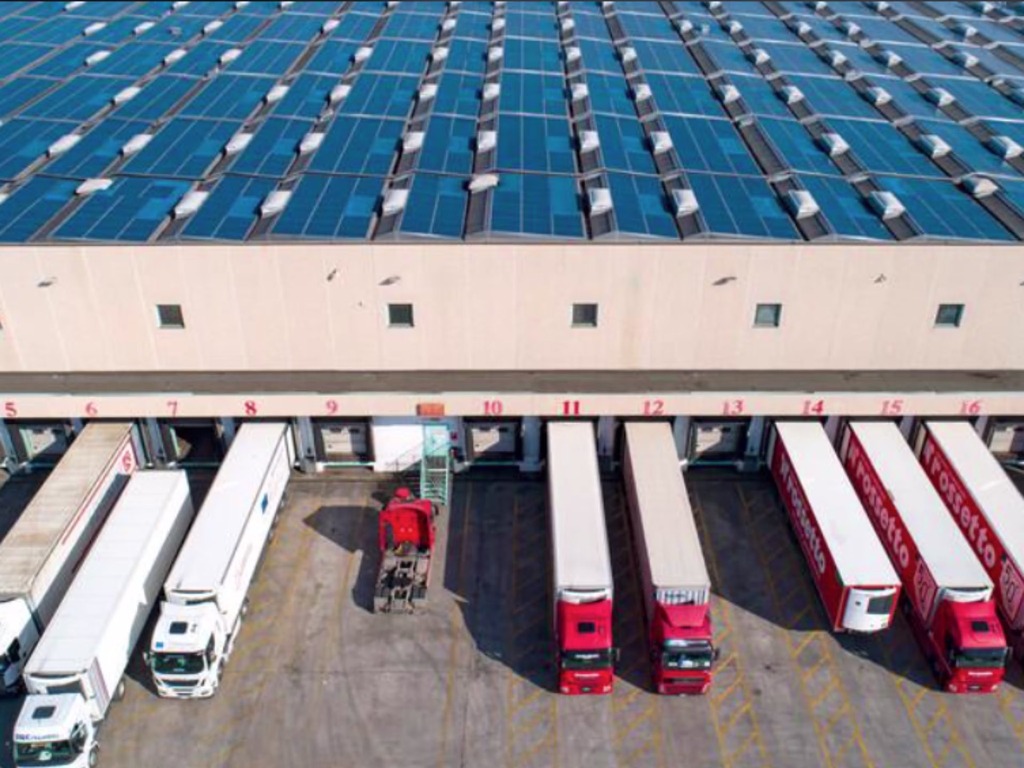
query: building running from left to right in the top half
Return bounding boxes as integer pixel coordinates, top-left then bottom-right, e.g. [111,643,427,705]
[0,0,1024,479]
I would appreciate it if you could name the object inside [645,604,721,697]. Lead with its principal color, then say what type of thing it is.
red truck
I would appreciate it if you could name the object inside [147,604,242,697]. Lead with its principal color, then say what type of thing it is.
white truck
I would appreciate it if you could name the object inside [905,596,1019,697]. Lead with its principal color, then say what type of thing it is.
red truck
